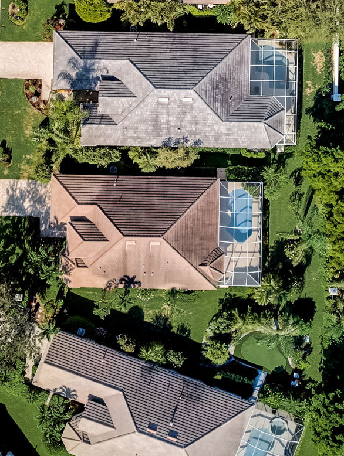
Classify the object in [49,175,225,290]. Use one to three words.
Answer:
house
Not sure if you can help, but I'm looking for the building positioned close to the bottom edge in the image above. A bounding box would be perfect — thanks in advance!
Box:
[33,327,255,456]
